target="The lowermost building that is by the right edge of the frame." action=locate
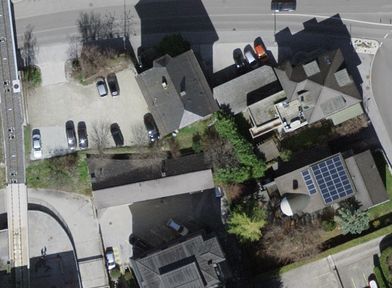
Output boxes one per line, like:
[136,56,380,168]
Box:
[264,150,390,216]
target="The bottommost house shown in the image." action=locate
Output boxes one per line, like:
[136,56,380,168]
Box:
[129,234,226,288]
